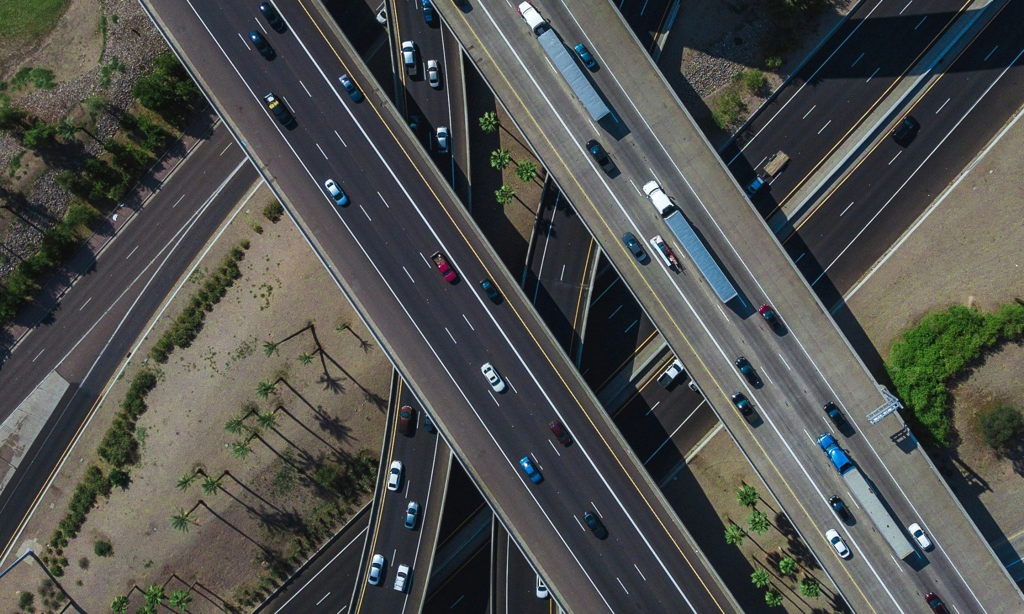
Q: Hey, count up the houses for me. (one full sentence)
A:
The photo contains no houses.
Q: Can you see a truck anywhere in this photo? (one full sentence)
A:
Yes, the frame does contain a truck.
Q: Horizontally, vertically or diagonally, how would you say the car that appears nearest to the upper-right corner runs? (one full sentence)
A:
In this picture, the car that appears nearest to the upper-right corner is oriented diagonally.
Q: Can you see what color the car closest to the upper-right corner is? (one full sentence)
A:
The car closest to the upper-right corner looks black in the image.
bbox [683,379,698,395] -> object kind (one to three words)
car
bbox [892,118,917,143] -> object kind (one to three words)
car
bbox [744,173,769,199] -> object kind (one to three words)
truck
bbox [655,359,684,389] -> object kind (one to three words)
truck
